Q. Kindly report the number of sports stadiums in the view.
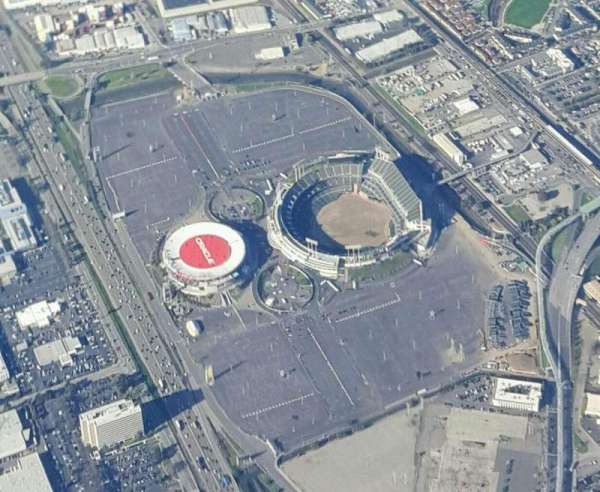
two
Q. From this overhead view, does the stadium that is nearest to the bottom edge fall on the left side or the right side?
left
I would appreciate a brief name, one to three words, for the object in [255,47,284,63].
shed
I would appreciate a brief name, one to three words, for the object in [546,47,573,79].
building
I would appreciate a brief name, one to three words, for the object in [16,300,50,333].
building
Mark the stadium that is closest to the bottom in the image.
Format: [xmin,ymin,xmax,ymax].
[155,221,250,307]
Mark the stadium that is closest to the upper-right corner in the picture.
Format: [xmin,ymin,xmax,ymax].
[265,145,432,279]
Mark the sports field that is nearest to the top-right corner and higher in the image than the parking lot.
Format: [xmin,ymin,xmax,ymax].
[504,0,549,29]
